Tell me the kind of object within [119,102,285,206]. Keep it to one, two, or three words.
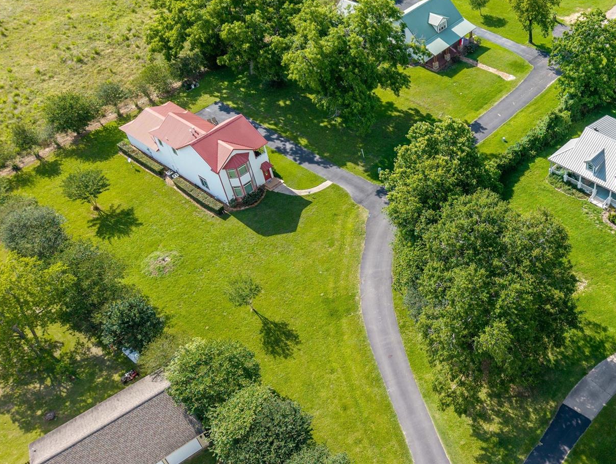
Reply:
house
